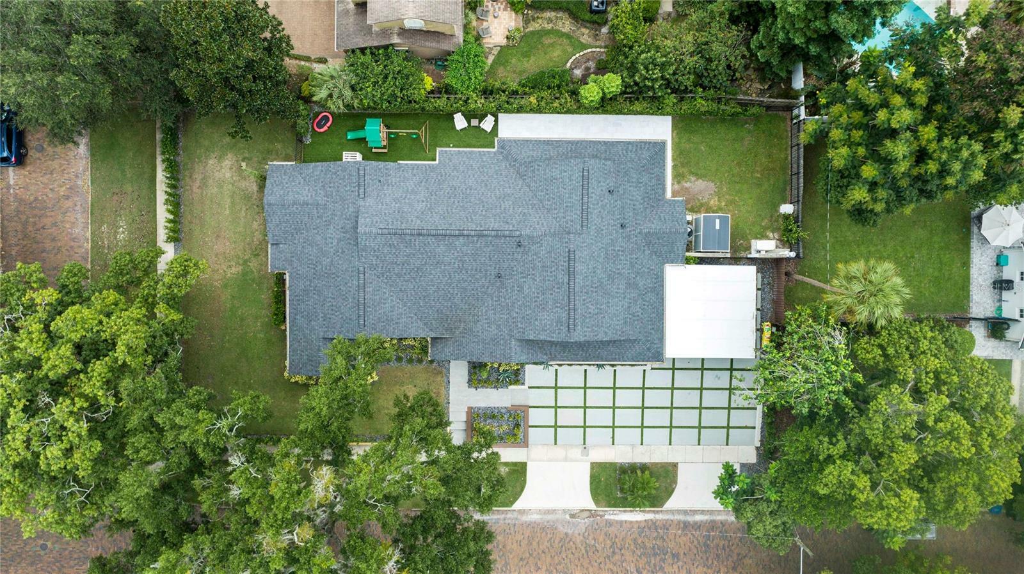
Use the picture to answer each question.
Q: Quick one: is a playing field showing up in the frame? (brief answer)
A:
No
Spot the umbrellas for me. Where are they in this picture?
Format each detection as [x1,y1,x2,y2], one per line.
[973,204,1023,249]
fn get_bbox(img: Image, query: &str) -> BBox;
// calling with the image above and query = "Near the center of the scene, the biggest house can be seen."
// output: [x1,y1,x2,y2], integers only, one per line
[263,138,687,376]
